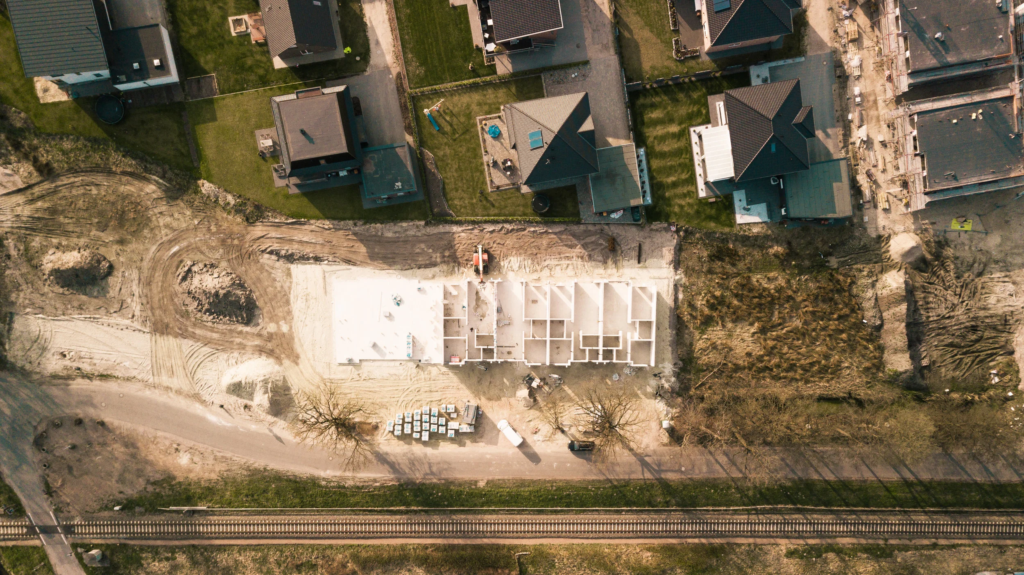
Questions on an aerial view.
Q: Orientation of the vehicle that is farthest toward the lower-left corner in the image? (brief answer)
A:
at an angle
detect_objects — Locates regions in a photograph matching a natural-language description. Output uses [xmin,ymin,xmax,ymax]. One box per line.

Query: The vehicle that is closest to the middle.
[473,245,489,290]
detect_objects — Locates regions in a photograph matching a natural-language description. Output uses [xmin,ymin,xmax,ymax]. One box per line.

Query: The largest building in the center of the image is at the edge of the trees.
[335,278,657,367]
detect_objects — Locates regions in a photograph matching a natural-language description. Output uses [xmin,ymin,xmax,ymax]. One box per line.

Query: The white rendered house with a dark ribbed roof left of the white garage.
[4,0,113,87]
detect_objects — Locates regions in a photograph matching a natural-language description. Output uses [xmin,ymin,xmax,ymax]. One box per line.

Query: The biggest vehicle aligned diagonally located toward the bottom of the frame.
[497,419,524,450]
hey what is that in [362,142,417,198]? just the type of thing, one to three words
building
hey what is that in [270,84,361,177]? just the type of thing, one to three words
house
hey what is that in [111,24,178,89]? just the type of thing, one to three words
building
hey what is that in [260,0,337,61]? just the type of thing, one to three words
house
